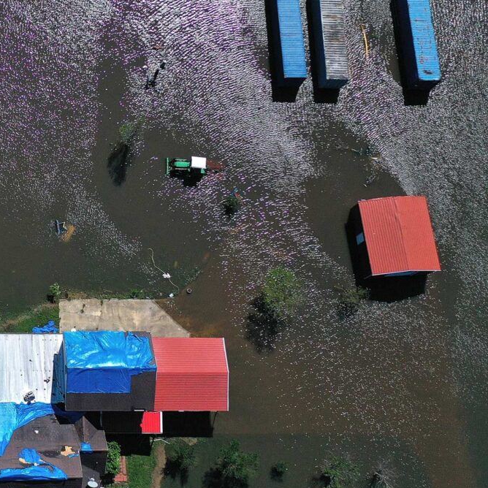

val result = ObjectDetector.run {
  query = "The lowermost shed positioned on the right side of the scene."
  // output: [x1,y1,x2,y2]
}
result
[350,196,441,282]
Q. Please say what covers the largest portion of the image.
water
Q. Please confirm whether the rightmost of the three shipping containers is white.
No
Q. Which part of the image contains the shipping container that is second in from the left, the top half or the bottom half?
top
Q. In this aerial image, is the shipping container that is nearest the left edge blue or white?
blue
